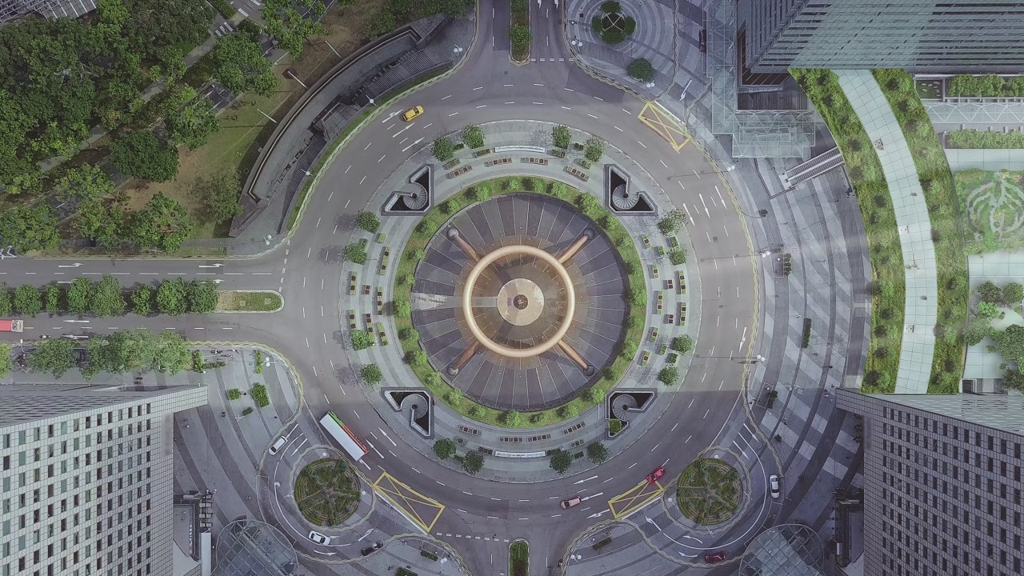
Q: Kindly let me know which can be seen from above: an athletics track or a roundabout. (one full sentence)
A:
The one in the frame is a roundabout.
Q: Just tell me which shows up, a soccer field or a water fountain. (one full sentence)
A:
Visible in the photo is a water fountain.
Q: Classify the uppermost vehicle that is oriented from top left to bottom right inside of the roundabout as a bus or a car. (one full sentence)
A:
The uppermost vehicle that is oriented from top left to bottom right inside of the roundabout in the image is a bus.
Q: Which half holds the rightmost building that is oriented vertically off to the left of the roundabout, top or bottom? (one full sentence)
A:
The rightmost building that is oriented vertically off to the left of the roundabout sits in the bottom half of the picture.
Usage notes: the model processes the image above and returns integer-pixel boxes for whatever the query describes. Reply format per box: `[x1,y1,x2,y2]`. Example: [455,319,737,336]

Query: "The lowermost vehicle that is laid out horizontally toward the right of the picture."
[704,550,725,562]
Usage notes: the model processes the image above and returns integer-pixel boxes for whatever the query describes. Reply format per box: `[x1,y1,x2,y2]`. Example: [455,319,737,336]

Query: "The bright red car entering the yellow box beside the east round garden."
[646,466,666,482]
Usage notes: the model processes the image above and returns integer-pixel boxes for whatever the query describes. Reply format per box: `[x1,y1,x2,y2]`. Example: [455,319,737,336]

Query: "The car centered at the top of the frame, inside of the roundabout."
[402,106,424,122]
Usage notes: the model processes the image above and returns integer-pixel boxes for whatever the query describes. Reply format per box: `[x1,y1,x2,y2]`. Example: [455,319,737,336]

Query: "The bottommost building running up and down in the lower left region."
[174,494,212,576]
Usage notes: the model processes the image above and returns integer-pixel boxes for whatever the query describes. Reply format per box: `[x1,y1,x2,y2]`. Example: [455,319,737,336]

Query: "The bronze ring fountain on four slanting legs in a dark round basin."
[410,192,630,411]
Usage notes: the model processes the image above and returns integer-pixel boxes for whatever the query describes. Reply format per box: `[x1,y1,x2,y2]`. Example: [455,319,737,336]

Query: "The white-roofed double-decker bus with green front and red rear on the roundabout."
[321,408,371,461]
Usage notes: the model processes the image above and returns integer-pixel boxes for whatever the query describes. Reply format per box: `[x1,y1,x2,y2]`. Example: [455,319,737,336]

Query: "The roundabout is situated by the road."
[283,65,754,539]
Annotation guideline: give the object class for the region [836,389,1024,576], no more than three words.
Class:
building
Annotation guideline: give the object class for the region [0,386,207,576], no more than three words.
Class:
building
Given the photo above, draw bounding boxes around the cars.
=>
[646,466,666,482]
[361,541,383,556]
[402,106,424,122]
[698,29,708,51]
[769,474,779,497]
[309,531,331,545]
[561,496,582,509]
[269,435,288,454]
[704,550,725,562]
